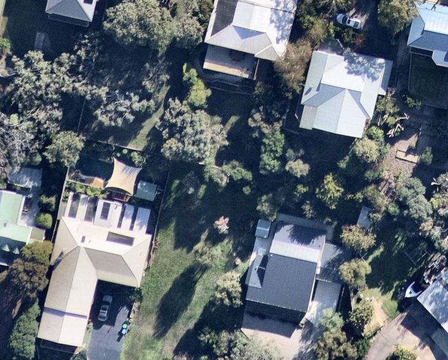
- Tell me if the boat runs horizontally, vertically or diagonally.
diagonally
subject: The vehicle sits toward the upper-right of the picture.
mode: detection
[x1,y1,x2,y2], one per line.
[335,12,363,29]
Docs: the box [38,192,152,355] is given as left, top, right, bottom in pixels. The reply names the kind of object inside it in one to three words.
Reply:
house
